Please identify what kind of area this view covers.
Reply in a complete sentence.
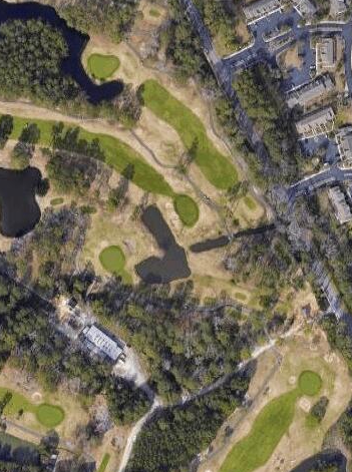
It's a golf course.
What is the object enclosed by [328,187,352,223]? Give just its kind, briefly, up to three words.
building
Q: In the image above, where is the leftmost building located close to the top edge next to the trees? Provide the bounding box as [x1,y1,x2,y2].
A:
[242,0,282,21]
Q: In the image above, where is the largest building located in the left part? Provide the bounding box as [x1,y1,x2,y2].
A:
[84,326,124,363]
